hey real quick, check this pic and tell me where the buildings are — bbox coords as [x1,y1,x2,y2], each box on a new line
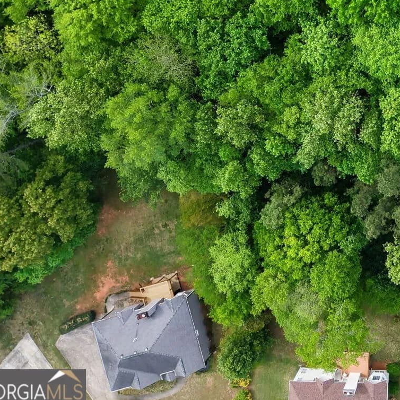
[289,359,393,400]
[91,291,210,392]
